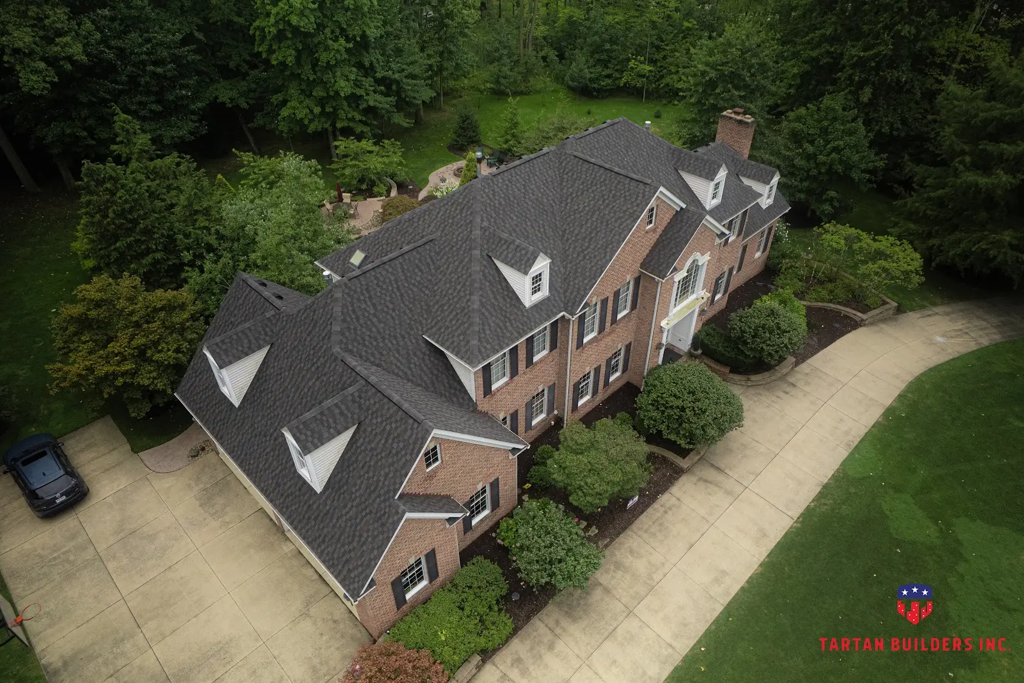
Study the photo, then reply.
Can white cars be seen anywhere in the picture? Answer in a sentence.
No, there isn't any white car down there.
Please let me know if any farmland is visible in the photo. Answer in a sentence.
No, the scene doesn't show any farmland.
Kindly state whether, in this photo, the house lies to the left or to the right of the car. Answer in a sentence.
You can see the house positioned to the right of the car.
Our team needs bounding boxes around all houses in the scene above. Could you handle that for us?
[173,105,791,639]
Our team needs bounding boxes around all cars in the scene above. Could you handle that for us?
[2,429,90,517]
